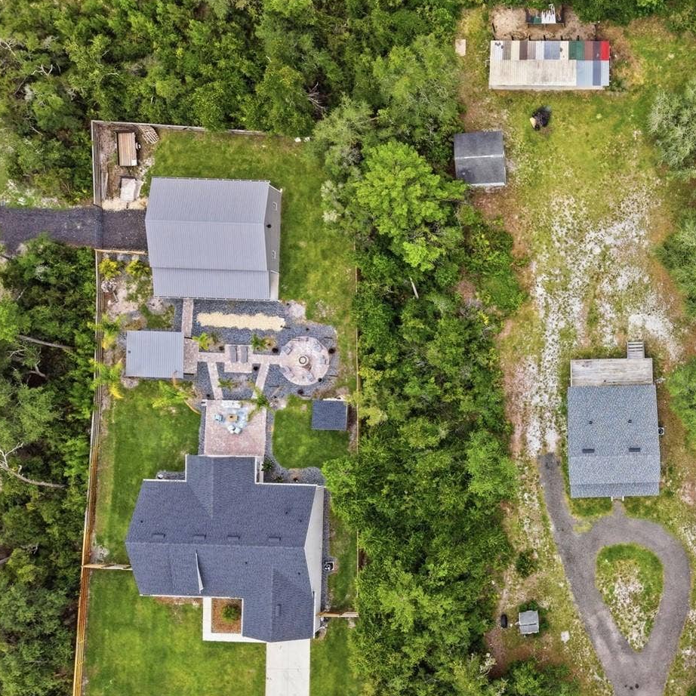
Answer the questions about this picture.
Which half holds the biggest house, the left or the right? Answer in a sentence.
The biggest house is on the left side of the image.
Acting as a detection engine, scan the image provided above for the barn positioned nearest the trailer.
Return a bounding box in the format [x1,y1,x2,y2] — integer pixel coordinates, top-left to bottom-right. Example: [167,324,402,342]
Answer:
[145,177,281,302]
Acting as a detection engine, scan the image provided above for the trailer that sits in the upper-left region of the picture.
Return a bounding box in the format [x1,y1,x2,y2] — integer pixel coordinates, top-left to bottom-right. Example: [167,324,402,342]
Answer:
[114,132,143,176]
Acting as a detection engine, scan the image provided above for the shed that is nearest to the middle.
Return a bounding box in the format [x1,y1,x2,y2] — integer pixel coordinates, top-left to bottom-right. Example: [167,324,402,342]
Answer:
[311,401,352,432]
